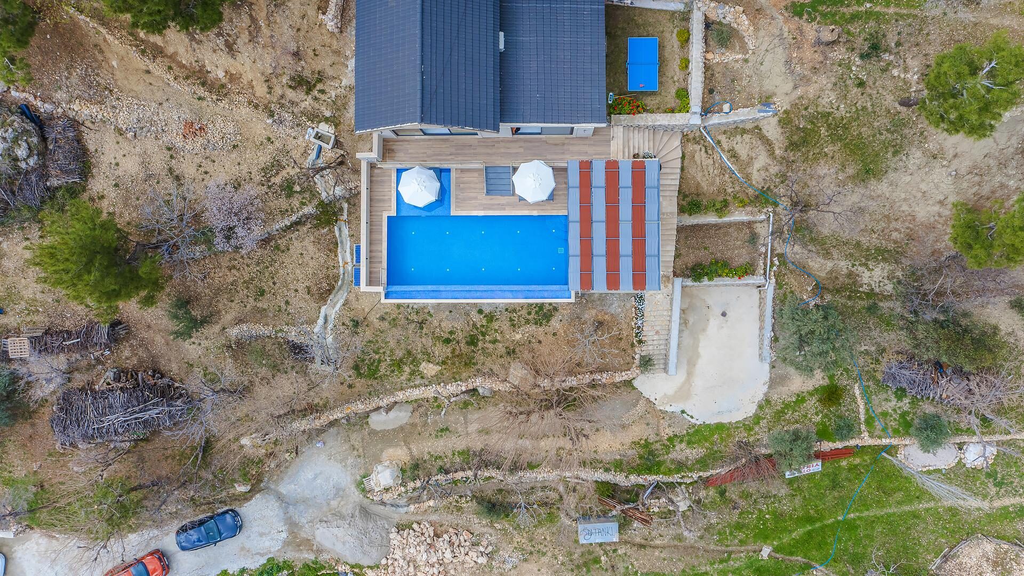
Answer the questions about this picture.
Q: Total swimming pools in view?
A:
one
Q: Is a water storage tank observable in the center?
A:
No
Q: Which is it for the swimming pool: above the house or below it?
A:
below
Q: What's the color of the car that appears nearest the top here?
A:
blue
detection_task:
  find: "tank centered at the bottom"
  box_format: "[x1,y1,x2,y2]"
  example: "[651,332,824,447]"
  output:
[577,516,619,544]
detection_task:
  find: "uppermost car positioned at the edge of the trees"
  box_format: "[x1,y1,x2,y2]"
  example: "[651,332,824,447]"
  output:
[175,505,249,550]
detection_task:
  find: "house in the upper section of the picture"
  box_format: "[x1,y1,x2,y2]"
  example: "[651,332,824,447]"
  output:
[354,0,608,139]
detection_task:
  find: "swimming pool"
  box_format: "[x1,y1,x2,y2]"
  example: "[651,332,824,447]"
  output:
[381,169,575,303]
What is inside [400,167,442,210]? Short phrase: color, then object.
white umbrella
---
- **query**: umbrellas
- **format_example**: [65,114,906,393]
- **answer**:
[400,167,442,210]
[512,161,555,205]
